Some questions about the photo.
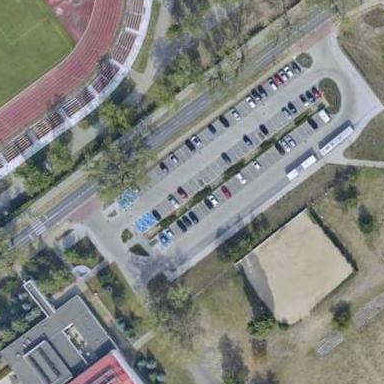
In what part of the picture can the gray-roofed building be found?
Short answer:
bottom left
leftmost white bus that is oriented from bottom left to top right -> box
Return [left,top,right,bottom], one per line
[286,155,316,181]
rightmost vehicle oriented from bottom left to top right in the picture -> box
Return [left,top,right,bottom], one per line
[319,126,356,157]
